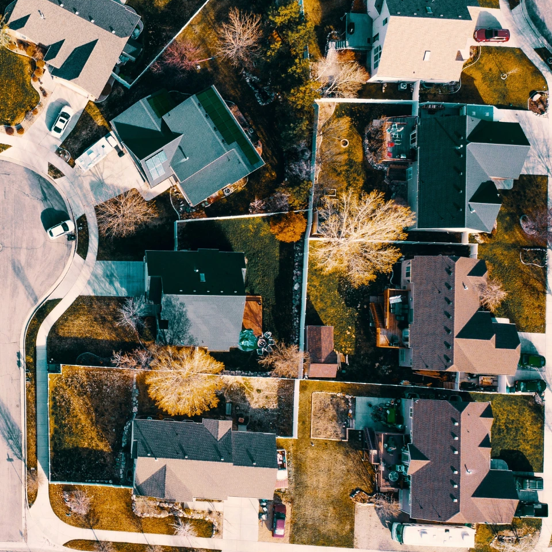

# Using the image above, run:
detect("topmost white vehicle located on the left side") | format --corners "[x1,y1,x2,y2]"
[50,105,74,137]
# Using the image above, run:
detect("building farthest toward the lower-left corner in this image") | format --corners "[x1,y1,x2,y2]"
[133,417,278,502]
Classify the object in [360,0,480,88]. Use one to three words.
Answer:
house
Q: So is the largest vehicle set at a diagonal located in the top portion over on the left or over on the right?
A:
left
